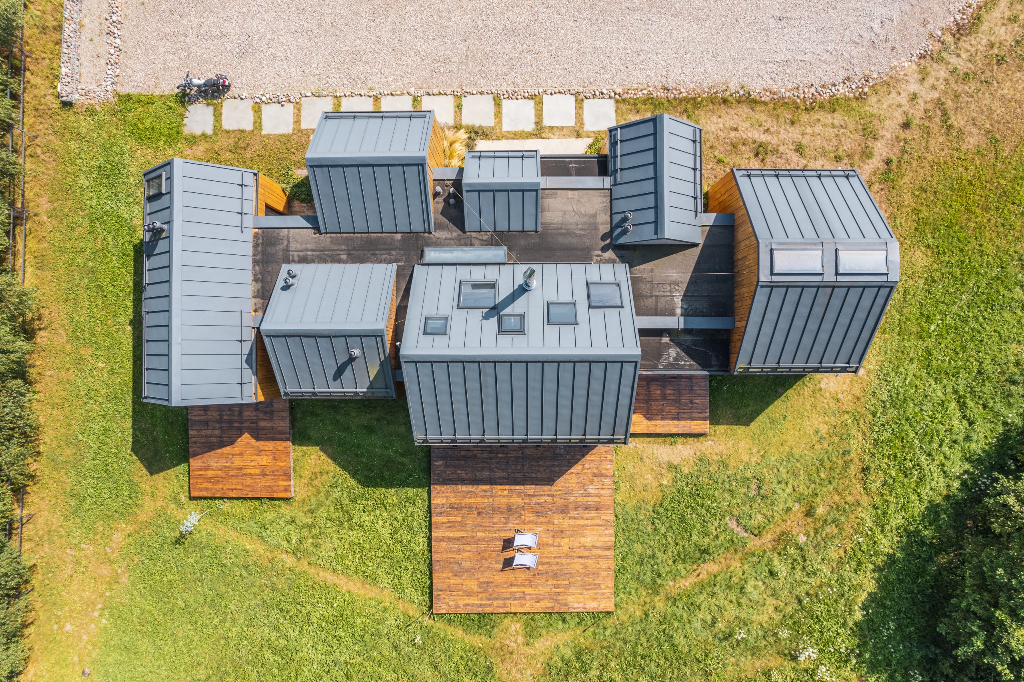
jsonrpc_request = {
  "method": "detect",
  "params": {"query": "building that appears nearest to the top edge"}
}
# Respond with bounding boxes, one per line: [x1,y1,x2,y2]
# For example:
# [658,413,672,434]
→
[137,108,901,448]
